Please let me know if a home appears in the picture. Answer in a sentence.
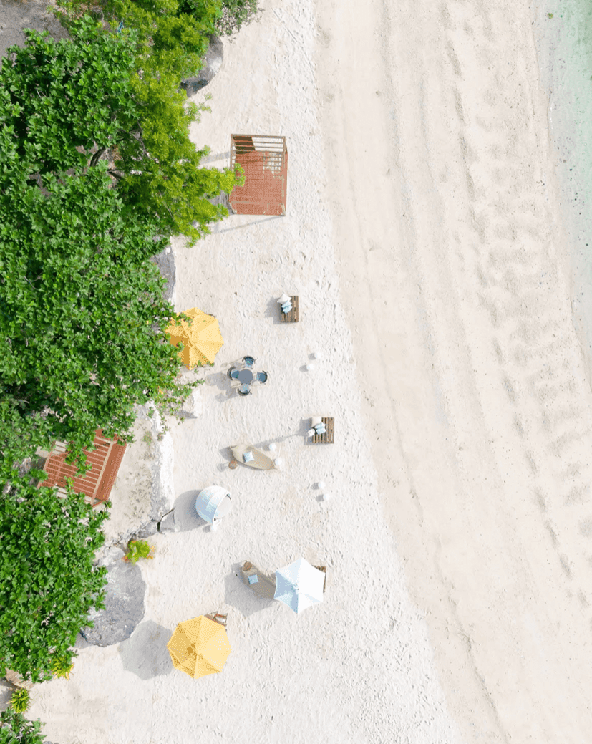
No, I can see no home in this picture.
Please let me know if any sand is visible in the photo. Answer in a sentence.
Yes, some sand is visible.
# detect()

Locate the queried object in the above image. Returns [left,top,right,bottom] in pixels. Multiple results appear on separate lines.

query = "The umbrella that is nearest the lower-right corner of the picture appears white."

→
[274,556,326,614]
